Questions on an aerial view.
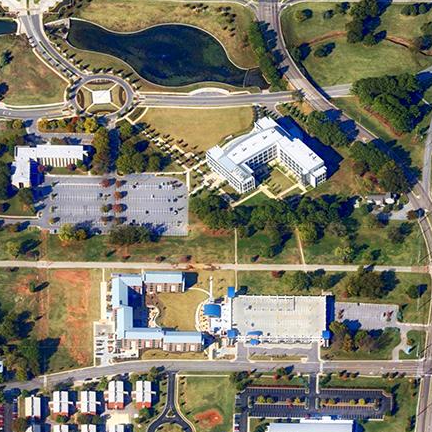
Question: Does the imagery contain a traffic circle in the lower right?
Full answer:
No, looking in the lower right, there is no traffic circle.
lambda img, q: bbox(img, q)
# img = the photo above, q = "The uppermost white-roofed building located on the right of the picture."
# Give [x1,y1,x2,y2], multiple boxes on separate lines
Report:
[205,117,327,194]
